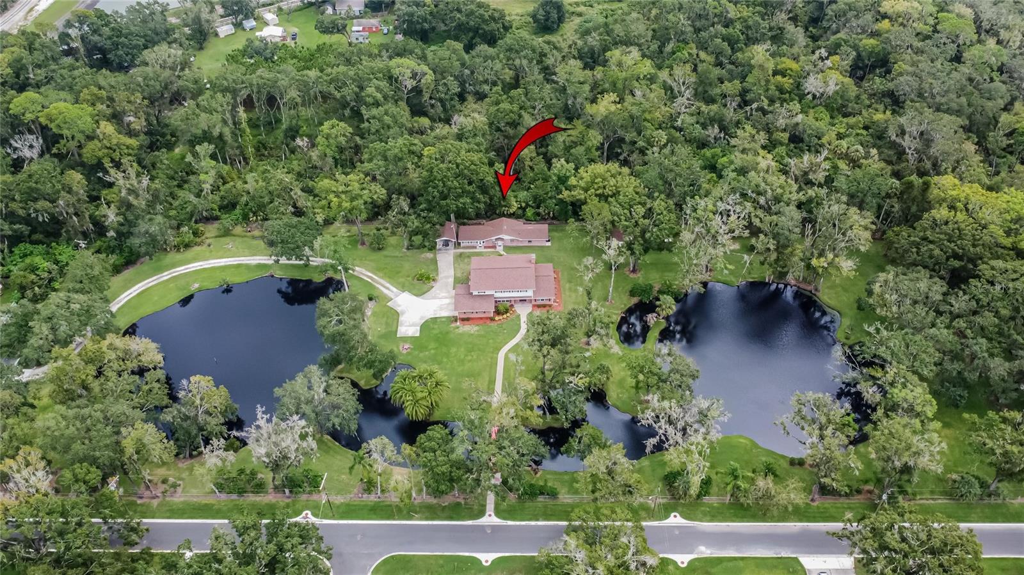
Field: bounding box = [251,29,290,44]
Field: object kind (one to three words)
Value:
house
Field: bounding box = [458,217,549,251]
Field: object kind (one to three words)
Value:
house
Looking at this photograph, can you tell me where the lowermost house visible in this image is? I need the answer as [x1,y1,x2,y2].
[455,255,555,318]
